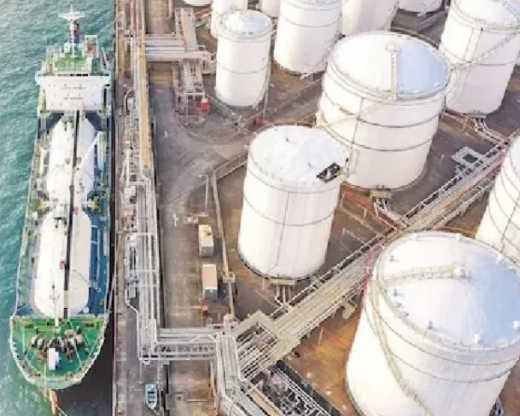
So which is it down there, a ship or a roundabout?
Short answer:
ship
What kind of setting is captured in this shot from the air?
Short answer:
industrial area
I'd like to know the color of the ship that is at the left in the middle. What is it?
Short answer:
white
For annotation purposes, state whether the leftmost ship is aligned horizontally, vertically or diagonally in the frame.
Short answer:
vertically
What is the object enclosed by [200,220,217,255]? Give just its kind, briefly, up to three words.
building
